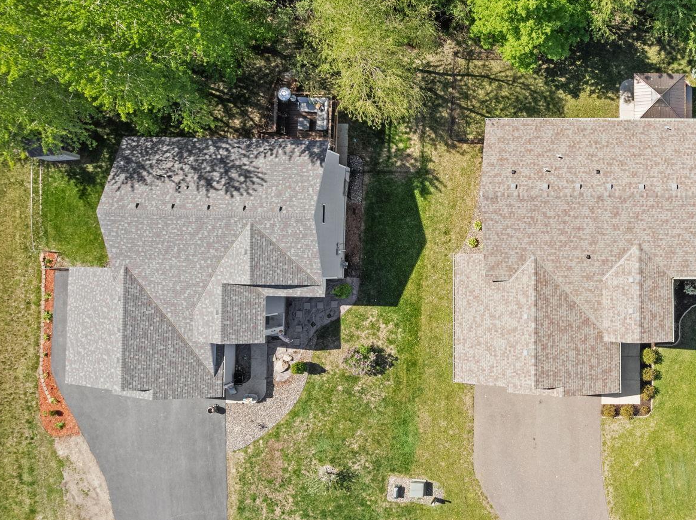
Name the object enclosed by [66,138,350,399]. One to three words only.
house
